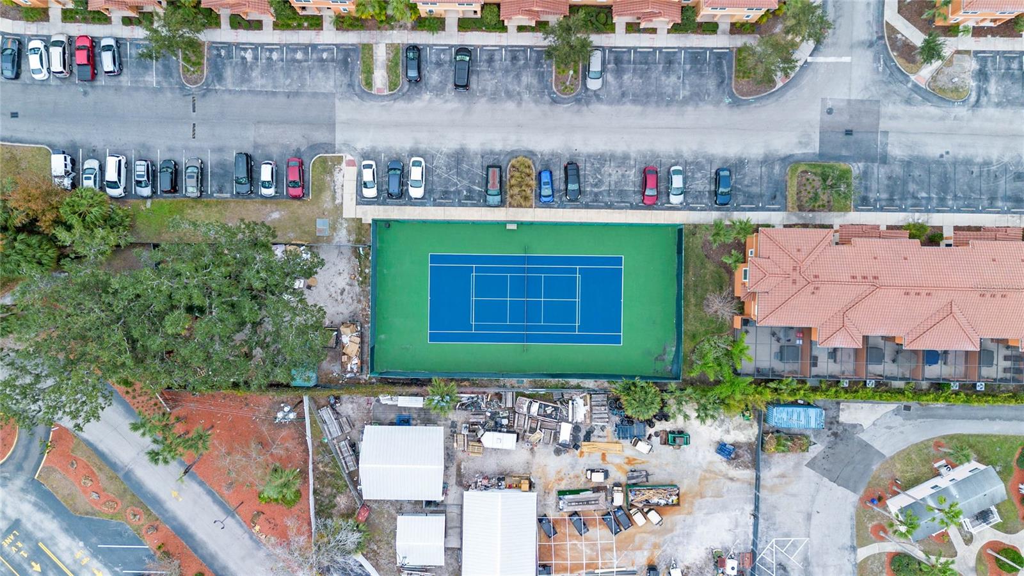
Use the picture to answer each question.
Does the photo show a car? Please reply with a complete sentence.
Yes, I can see a car in this picture.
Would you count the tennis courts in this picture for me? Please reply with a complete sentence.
The photo contains exactly 1 tennis court.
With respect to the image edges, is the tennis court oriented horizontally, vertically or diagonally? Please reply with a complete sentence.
The tennis court has been laid out horizontally relative to the frame.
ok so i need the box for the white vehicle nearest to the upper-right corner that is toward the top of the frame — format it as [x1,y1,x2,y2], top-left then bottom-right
[668,165,686,205]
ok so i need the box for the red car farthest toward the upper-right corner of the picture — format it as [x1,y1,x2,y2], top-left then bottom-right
[641,165,659,206]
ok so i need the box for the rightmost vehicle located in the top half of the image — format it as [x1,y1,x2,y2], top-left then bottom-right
[714,167,733,206]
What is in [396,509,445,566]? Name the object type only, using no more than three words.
shed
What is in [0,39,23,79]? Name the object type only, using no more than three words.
car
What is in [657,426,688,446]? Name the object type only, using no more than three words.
work vehicle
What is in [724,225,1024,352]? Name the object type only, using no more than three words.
house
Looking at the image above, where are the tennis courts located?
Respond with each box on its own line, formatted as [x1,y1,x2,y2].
[375,223,676,376]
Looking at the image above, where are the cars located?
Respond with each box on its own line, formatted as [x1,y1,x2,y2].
[641,165,659,206]
[408,157,425,199]
[563,159,582,202]
[453,47,472,92]
[360,160,379,198]
[184,158,204,198]
[404,46,421,83]
[286,158,305,198]
[485,165,502,206]
[586,48,604,90]
[105,154,129,197]
[233,152,254,195]
[100,37,123,76]
[538,169,554,204]
[134,159,157,198]
[386,160,404,199]
[159,160,179,193]
[49,34,74,78]
[51,149,75,189]
[82,156,104,194]
[0,39,23,79]
[668,165,686,205]
[714,167,733,206]
[259,160,278,197]
[28,40,52,81]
